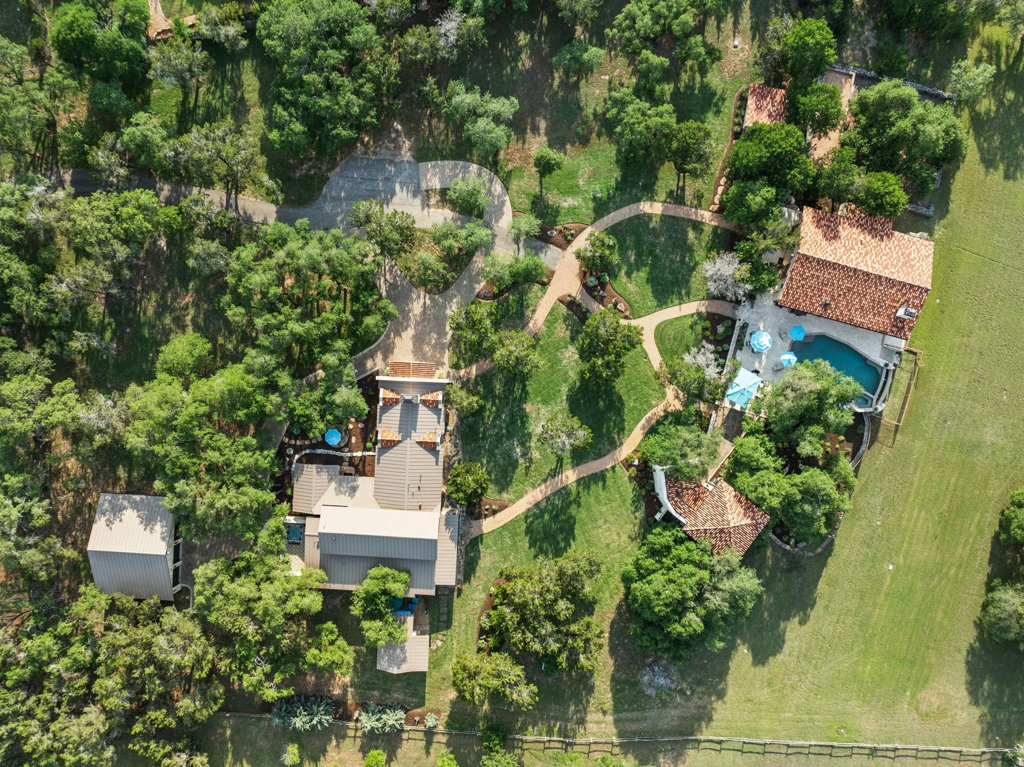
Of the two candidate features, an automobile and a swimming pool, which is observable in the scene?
swimming pool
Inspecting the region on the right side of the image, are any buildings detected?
Yes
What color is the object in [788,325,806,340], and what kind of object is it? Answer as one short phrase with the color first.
blue umbrella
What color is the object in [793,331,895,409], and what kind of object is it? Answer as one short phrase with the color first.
blue swimming pool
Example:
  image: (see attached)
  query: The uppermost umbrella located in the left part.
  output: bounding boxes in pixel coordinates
[325,429,341,445]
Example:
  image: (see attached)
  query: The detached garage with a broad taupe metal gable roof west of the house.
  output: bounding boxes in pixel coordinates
[86,493,194,601]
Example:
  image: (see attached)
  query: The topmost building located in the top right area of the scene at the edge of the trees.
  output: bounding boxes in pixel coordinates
[737,83,789,135]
